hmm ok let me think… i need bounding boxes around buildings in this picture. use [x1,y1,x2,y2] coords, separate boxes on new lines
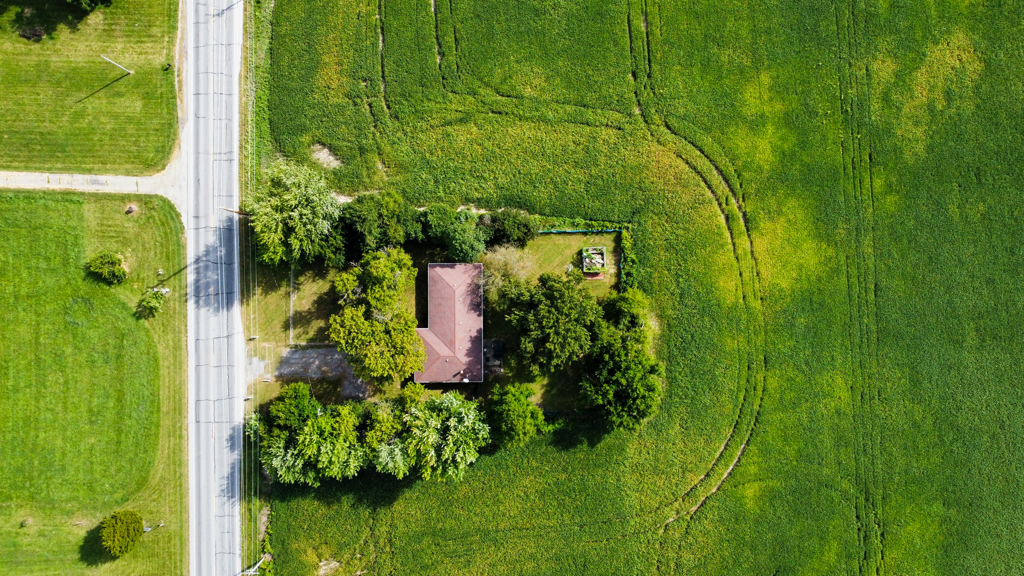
[414,263,483,383]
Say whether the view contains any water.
No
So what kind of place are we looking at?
farmland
